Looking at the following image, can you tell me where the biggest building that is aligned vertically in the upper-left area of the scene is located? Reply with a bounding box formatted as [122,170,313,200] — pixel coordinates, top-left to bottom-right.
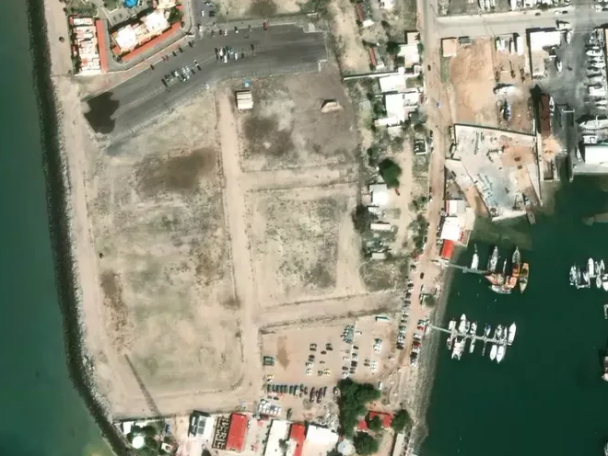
[70,17,102,78]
